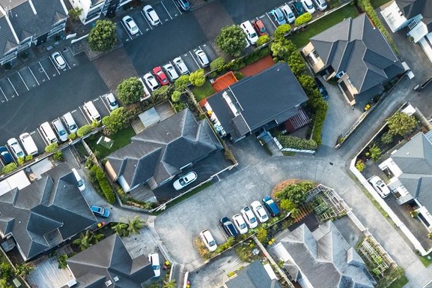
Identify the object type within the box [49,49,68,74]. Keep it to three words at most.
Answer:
car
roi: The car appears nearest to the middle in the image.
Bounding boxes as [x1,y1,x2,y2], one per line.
[172,172,198,191]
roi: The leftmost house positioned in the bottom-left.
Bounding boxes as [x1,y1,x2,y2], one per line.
[0,171,97,260]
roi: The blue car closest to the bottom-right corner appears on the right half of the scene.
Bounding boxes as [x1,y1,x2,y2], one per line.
[262,194,280,218]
